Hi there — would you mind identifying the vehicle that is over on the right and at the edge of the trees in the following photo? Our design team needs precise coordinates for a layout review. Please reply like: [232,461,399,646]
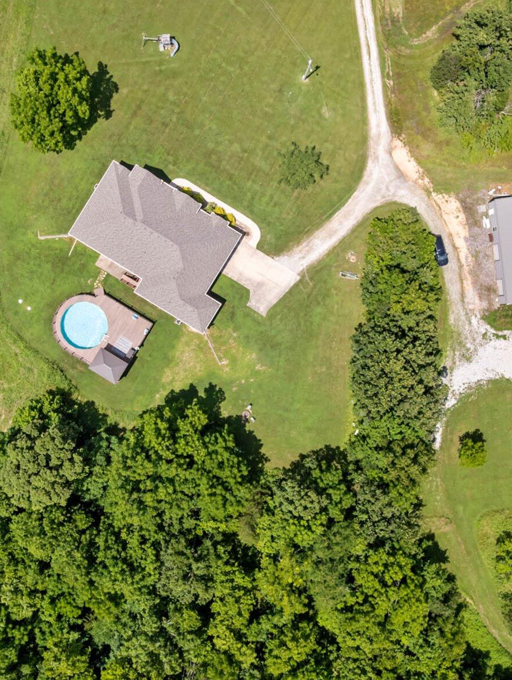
[432,234,451,266]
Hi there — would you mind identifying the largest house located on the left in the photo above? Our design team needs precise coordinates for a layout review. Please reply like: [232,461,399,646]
[68,160,242,334]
